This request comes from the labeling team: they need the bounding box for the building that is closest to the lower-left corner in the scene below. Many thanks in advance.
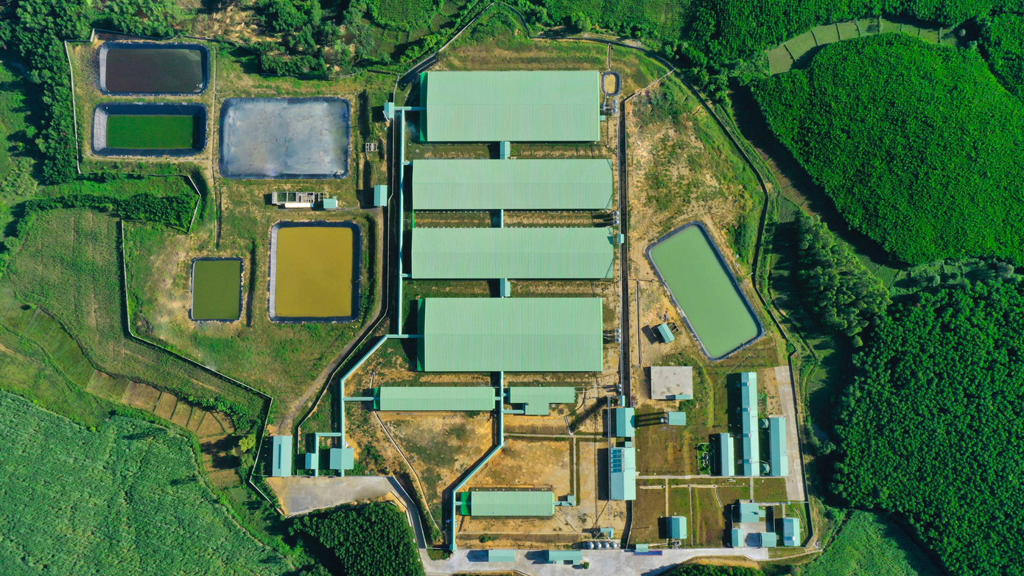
[273,435,294,477]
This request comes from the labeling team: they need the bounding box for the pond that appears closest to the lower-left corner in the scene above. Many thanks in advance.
[188,255,245,324]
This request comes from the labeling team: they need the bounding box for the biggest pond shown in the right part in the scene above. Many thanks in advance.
[649,223,763,359]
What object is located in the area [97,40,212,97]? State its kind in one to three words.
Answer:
pond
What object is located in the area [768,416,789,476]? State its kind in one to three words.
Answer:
building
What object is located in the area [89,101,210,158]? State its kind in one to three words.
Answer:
pond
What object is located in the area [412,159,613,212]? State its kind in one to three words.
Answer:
barn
